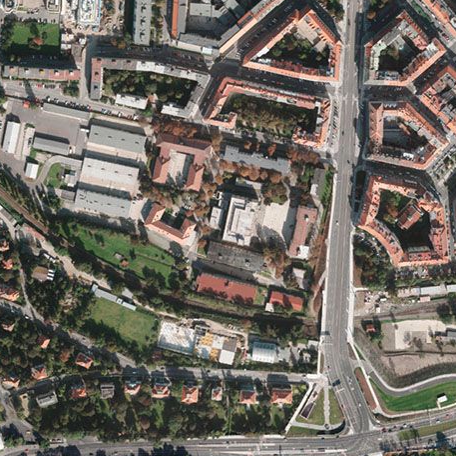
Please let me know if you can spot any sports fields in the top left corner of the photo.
No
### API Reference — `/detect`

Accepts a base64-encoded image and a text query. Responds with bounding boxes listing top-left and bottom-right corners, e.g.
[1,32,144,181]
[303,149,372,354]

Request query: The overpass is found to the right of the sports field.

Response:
[322,233,358,387]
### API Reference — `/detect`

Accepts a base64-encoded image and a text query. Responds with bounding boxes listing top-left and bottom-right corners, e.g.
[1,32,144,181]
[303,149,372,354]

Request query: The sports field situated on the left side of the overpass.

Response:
[94,301,154,343]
